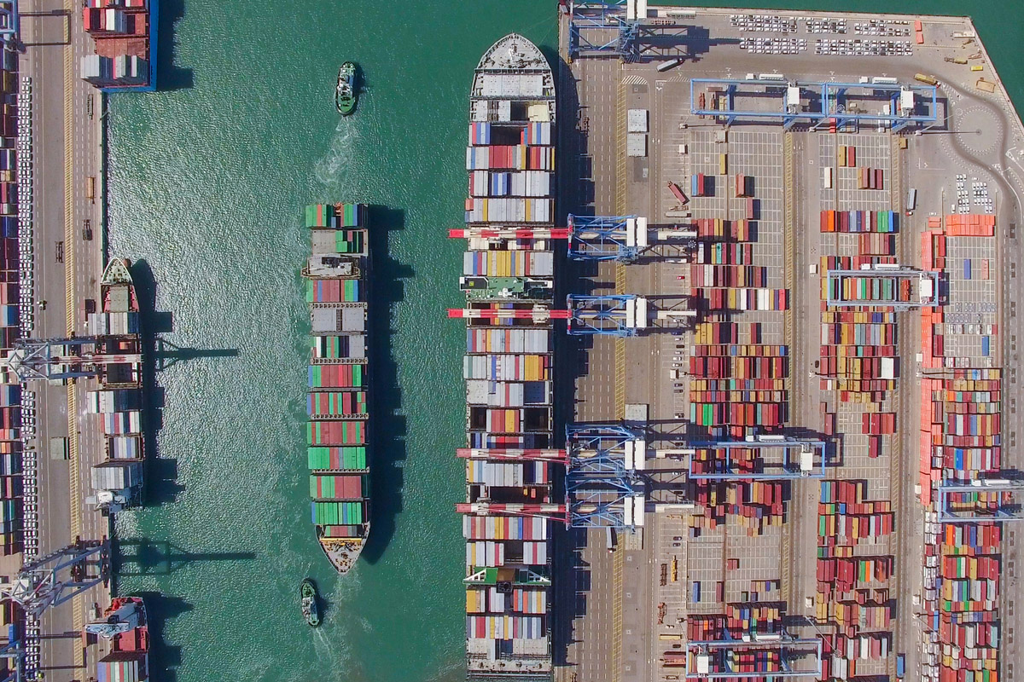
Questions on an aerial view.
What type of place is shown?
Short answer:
port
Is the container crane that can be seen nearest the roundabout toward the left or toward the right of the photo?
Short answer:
right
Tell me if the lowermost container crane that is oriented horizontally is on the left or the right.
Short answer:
right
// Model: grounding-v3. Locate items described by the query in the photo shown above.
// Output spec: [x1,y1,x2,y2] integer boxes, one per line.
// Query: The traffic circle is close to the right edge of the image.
[957,109,1003,154]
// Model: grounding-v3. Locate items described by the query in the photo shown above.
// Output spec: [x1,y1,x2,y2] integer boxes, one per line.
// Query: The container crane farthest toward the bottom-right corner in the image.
[926,476,1024,522]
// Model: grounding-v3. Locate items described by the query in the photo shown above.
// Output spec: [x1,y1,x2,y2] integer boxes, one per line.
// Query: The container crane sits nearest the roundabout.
[824,77,937,136]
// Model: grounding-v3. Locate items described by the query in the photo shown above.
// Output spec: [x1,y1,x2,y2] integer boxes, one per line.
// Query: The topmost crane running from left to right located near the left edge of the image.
[0,334,145,384]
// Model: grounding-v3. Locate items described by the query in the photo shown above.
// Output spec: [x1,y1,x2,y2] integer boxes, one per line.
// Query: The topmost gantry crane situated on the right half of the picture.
[560,0,708,74]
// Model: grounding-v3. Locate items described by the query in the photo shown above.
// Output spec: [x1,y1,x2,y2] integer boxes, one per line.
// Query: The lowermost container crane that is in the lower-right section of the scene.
[684,632,822,680]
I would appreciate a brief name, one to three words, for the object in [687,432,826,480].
container crane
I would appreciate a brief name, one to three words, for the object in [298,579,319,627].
boat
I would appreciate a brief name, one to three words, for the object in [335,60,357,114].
boat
